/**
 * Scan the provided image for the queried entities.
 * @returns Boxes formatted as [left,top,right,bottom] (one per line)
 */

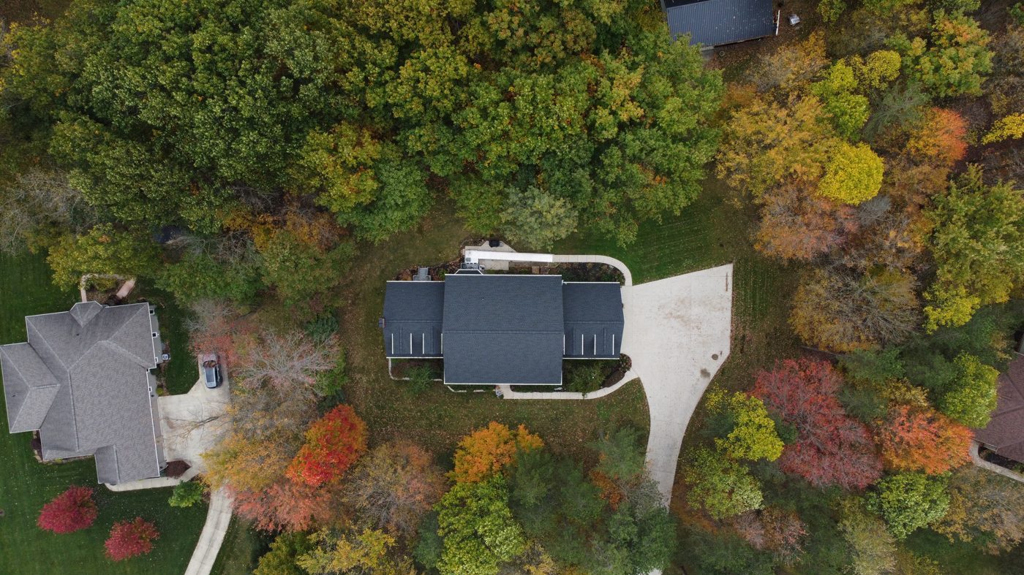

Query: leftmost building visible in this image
[0,300,167,484]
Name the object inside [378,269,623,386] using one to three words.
house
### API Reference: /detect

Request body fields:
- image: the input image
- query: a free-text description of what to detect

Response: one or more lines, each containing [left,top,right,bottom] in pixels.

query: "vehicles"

[203,354,222,390]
